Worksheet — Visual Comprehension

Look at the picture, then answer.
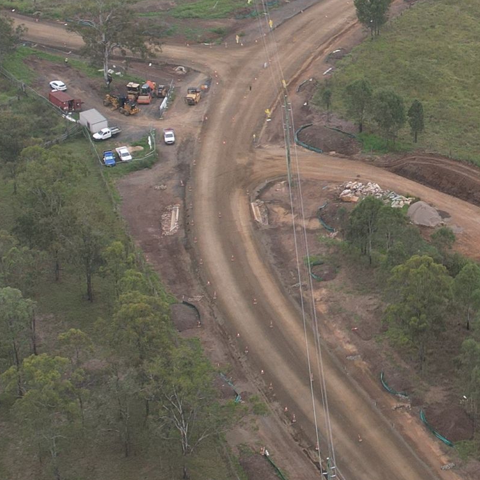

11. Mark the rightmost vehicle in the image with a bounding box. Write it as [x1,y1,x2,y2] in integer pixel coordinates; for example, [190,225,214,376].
[184,83,201,102]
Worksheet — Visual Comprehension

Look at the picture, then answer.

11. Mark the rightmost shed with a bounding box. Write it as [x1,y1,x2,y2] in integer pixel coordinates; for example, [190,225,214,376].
[78,109,107,134]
